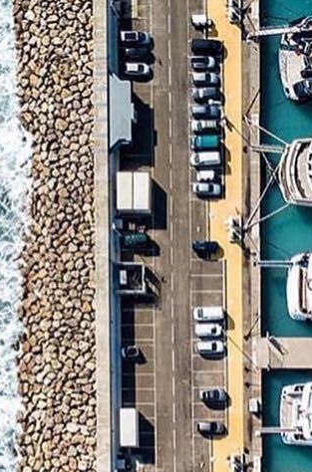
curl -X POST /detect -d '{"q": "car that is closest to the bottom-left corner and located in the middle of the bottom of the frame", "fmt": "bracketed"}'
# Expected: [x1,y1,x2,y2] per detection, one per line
[123,344,142,357]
